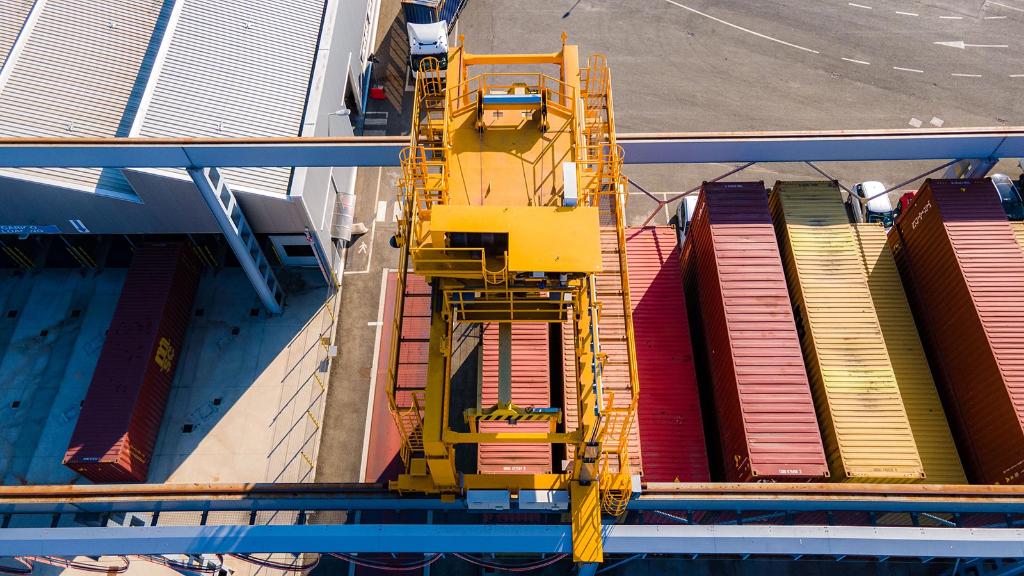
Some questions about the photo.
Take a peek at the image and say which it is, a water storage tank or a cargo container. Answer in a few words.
cargo container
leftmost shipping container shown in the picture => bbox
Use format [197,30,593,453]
[64,241,206,479]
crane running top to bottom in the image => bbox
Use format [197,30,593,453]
[380,31,643,562]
